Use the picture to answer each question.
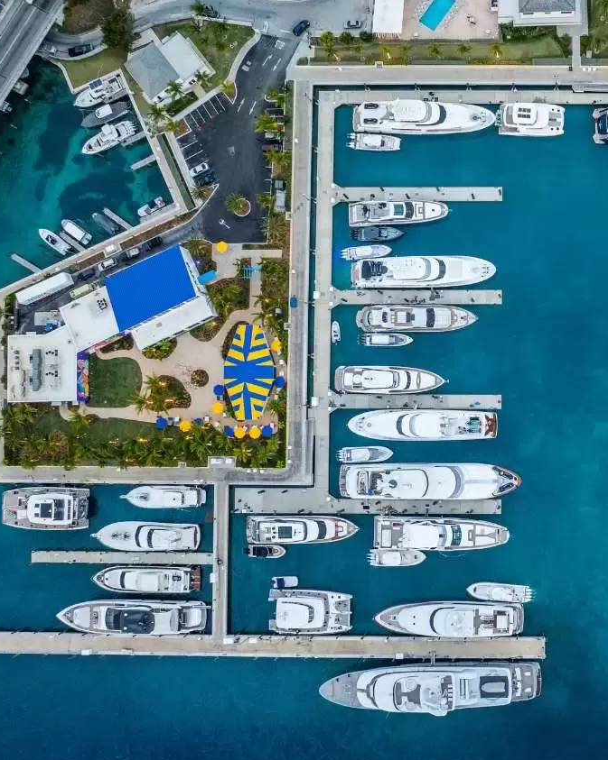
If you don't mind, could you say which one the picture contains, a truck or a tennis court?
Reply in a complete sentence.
Visible in the photo is a truck.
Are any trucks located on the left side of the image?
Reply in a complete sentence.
Yes, you'll find a truck on the left side of the image.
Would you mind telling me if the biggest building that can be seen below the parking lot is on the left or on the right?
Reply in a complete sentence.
You can find the biggest building that can be seen below the parking lot on the left side of the picture.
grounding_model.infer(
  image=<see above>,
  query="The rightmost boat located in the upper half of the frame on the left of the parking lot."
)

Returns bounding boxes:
[138,196,168,216]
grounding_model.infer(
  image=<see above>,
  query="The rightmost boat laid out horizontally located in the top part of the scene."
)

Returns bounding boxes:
[495,103,564,136]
